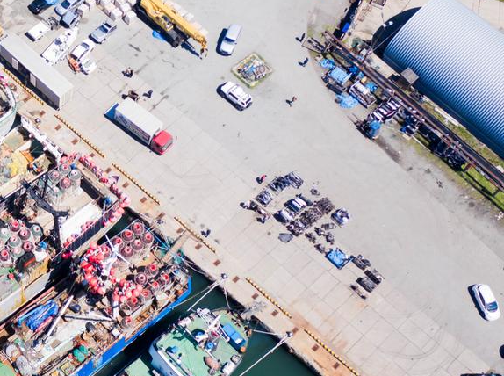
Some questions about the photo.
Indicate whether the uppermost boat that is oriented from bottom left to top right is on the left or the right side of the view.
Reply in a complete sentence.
The uppermost boat that is oriented from bottom left to top right is on the left side of the image.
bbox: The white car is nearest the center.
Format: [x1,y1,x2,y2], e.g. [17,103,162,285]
[219,78,256,110]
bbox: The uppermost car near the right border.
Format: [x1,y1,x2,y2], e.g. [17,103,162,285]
[471,280,504,322]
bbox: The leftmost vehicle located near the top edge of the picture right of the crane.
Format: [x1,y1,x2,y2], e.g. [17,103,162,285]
[219,15,244,54]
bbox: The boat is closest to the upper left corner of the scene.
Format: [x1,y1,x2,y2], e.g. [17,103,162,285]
[40,21,82,58]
